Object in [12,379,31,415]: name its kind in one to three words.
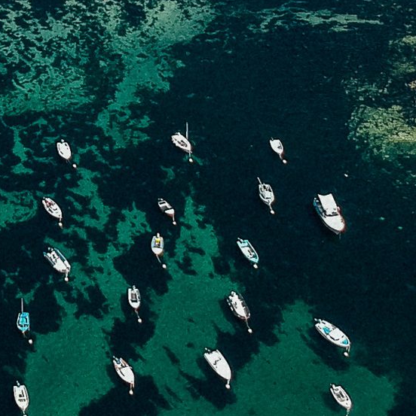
boat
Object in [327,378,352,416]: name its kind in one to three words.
boat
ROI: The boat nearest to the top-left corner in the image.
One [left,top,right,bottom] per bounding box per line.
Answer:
[56,136,73,164]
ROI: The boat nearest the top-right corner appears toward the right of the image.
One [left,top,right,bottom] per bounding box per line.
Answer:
[267,135,284,161]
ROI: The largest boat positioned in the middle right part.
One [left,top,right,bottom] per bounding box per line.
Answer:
[311,185,343,237]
